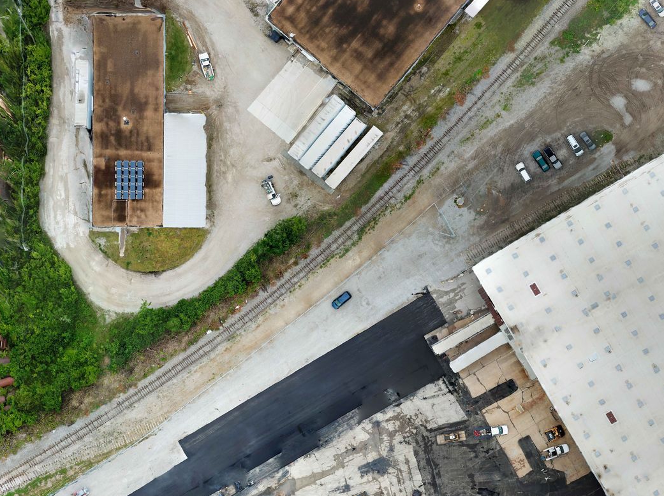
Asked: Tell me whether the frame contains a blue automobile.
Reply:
Yes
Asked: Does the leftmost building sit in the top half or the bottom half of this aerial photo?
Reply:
top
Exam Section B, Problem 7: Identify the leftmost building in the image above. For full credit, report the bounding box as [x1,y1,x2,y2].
[91,14,171,229]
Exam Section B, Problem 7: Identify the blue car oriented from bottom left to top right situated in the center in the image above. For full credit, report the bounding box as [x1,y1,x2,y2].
[330,290,352,308]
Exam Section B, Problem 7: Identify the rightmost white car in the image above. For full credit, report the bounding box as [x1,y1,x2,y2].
[648,0,664,17]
